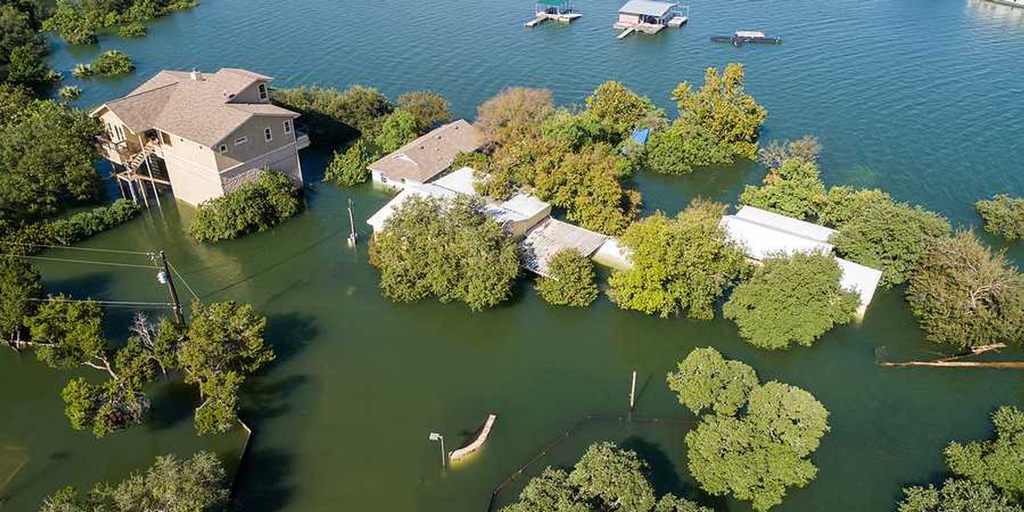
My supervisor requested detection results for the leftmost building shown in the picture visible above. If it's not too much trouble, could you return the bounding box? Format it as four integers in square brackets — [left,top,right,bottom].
[87,66,312,214]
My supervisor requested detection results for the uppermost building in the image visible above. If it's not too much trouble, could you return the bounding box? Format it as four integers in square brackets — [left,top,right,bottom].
[612,0,696,37]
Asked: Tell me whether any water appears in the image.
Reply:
Yes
